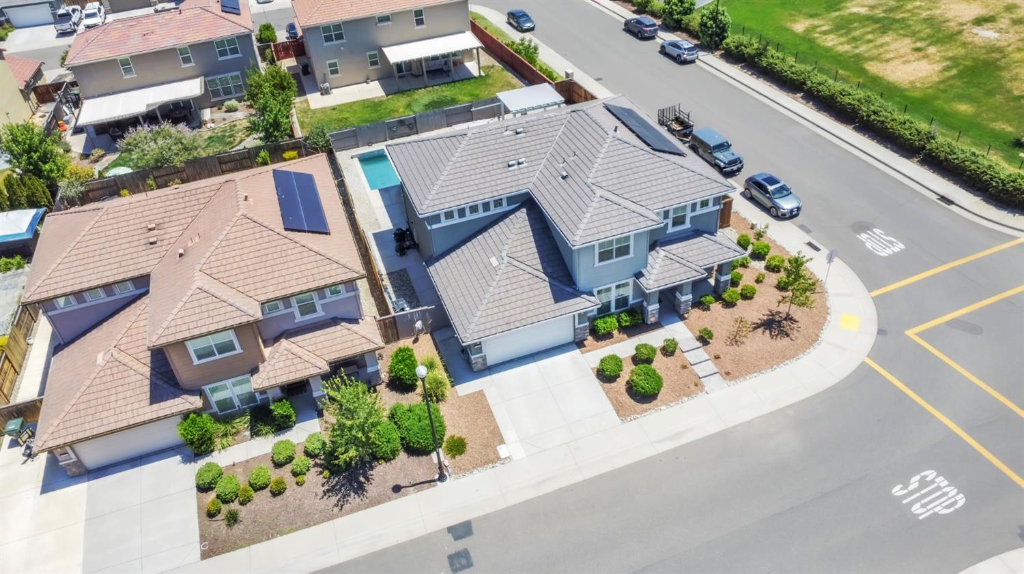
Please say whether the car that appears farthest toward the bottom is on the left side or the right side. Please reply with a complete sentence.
The car that appears farthest toward the bottom is on the right side of the image.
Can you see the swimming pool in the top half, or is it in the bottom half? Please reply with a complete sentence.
It is in the top half that the swimming pool appears.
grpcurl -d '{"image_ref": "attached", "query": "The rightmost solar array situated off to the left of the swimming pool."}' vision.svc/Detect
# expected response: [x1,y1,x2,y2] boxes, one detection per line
[272,169,330,235]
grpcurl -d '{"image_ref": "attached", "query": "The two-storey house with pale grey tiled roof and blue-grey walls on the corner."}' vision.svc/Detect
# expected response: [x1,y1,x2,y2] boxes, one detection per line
[385,91,750,373]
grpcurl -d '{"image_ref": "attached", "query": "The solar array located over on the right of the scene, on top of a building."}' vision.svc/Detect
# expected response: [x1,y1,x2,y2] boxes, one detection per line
[601,102,688,157]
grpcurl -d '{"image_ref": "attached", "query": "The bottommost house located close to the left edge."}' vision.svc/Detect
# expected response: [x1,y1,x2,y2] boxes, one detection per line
[20,152,386,479]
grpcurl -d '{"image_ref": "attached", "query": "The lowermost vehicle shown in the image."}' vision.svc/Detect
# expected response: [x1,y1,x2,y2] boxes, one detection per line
[743,171,803,220]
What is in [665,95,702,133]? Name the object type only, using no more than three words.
trailer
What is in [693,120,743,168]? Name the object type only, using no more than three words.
vehicle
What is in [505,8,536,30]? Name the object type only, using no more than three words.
car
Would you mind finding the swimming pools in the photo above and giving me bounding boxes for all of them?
[347,139,402,191]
